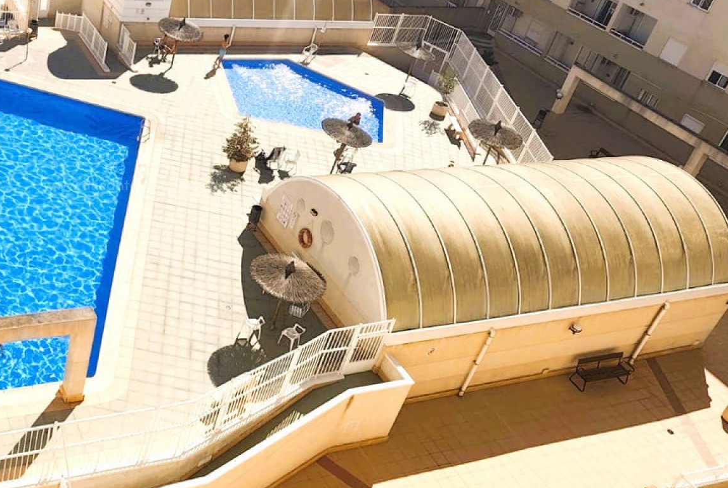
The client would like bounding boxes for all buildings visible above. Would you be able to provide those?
[87,0,378,51]
[253,150,728,403]
[384,0,728,193]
